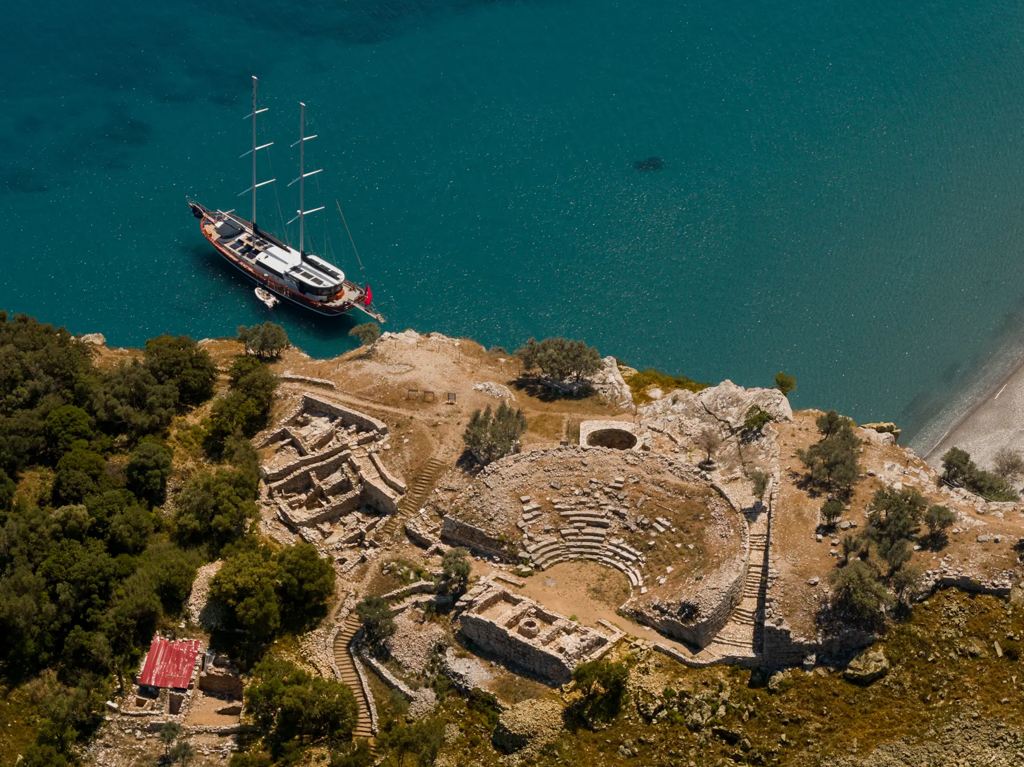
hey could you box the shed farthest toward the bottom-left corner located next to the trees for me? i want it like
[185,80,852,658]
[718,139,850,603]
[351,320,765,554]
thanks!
[138,632,204,708]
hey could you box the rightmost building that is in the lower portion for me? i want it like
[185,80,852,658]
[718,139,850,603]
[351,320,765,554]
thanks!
[454,571,629,683]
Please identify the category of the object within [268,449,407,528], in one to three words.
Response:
house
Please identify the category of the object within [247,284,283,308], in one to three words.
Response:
boat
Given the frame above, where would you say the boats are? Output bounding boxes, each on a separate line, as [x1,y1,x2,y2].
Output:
[247,284,283,308]
[186,75,388,327]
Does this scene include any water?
Yes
